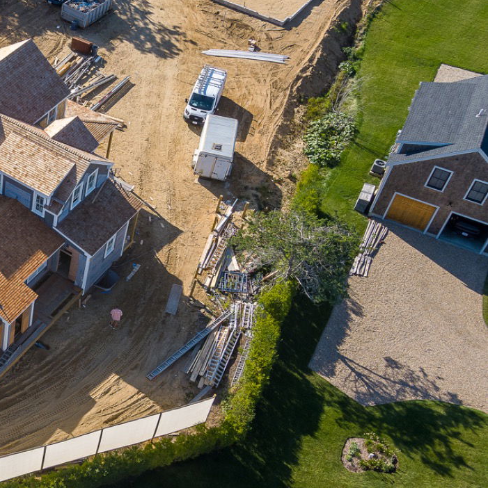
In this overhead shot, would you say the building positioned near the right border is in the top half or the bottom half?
top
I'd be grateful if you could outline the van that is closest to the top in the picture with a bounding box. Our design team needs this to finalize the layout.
[188,55,237,123]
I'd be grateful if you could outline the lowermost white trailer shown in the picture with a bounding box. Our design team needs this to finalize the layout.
[185,115,235,183]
